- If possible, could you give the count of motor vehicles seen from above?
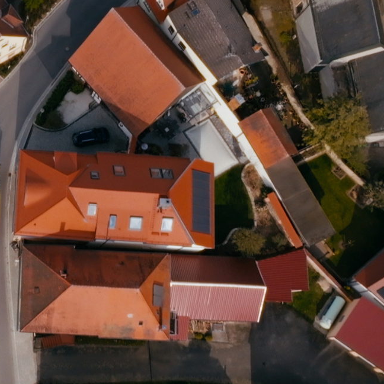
2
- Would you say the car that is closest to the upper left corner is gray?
No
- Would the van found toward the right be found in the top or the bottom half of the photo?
bottom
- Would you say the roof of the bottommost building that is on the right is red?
Yes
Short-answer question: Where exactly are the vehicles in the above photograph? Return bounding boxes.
[312,293,348,333]
[71,127,111,148]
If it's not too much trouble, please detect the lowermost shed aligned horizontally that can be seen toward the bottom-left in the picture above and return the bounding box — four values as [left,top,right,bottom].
[41,335,74,348]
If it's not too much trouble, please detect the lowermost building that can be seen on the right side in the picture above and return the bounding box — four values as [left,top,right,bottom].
[327,297,384,372]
